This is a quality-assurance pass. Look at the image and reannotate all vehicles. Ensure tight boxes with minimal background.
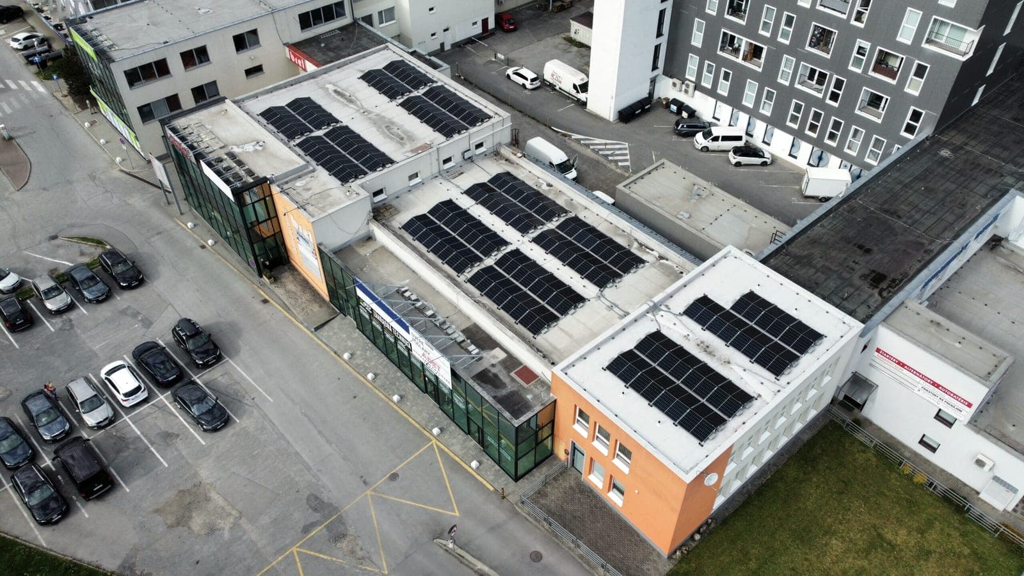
[673,117,718,138]
[524,136,583,183]
[61,378,114,431]
[543,59,589,101]
[169,384,225,435]
[728,146,772,167]
[0,419,32,473]
[55,440,114,505]
[16,392,70,444]
[22,277,69,316]
[505,67,543,90]
[91,254,140,293]
[128,345,180,389]
[59,266,106,306]
[98,363,149,409]
[12,31,54,50]
[168,320,218,369]
[694,127,747,152]
[6,466,65,528]
[0,295,32,333]
[0,260,28,293]
[498,10,517,32]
